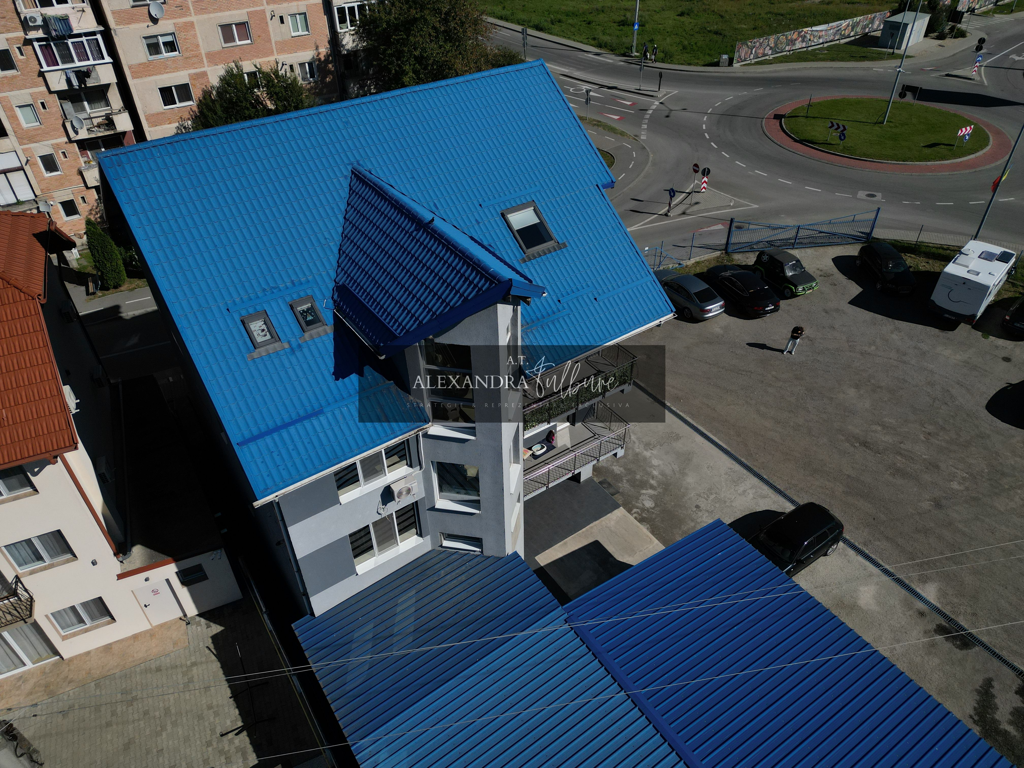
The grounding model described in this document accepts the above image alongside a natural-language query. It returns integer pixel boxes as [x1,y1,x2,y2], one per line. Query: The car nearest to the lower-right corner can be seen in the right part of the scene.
[750,498,854,580]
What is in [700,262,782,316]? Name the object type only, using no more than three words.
car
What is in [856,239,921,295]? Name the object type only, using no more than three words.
car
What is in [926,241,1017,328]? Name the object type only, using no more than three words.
camper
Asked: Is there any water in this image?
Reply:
No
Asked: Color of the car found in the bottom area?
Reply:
black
